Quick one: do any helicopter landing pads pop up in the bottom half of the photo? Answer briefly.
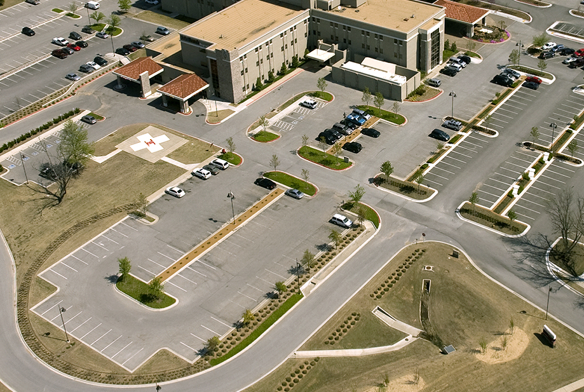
No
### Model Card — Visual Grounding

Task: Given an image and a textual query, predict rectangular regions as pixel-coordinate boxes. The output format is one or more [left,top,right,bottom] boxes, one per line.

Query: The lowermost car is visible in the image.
[332,212,353,229]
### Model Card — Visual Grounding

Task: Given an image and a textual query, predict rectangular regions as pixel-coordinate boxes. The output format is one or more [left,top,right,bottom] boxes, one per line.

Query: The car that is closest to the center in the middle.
[285,189,305,201]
